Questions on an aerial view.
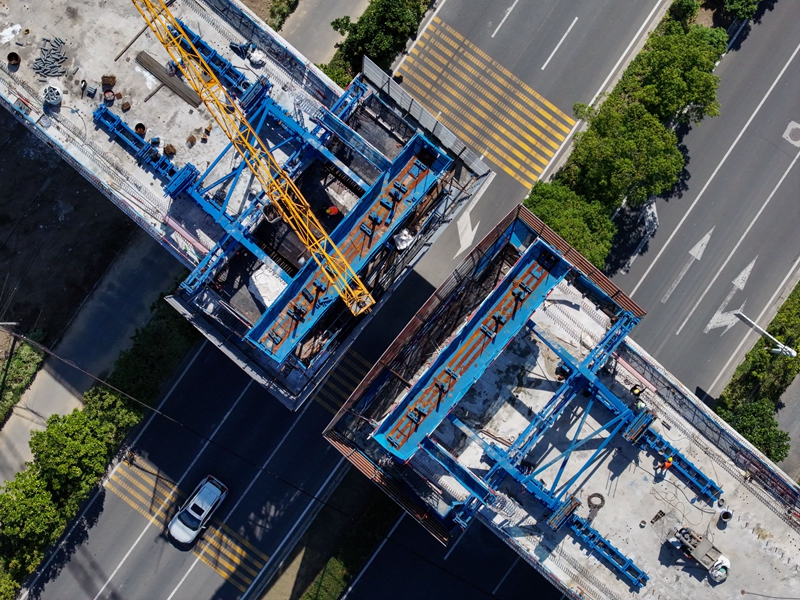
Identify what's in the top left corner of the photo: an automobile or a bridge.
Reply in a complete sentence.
The one visible in the top left corner of the photo is a bridge.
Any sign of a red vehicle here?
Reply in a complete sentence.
No, I can see no red vehicle in this picture.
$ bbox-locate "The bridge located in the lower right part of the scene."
[410,287,800,600]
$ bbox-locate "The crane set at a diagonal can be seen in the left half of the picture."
[127,0,379,320]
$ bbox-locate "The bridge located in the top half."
[0,0,357,278]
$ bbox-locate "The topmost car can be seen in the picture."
[168,472,230,552]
